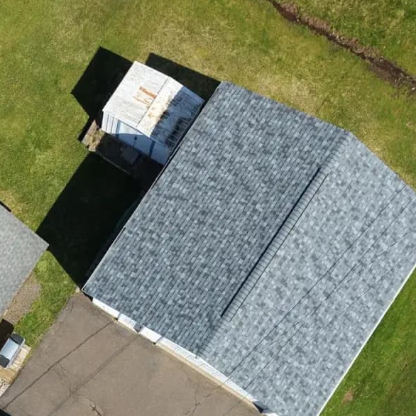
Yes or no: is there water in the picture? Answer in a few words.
No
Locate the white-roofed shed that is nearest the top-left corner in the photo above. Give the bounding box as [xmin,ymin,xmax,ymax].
[101,62,200,166]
